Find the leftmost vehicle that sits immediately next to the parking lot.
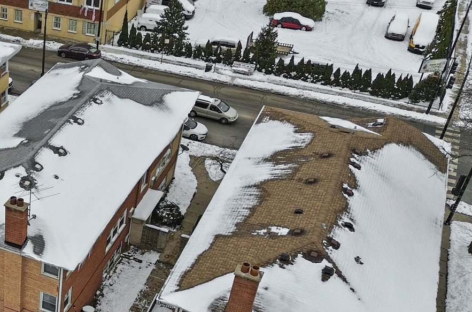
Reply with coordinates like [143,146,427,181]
[55,41,102,61]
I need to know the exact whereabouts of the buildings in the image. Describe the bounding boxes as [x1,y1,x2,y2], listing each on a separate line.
[0,61,198,312]
[156,104,448,312]
[0,0,144,44]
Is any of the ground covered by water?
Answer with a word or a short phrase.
No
